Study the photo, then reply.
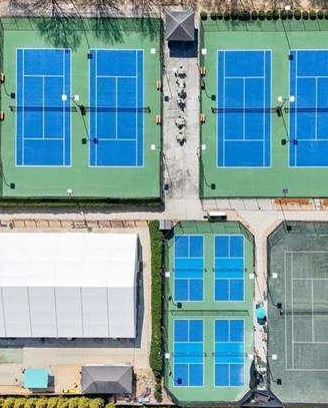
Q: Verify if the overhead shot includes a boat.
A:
No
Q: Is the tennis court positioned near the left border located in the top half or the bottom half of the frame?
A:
top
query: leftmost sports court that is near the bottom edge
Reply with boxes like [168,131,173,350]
[166,311,209,403]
